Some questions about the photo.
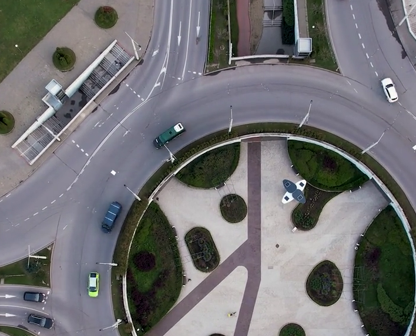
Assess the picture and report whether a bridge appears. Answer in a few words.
No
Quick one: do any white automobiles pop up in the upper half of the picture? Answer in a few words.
Yes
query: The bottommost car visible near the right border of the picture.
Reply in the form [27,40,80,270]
[381,77,397,104]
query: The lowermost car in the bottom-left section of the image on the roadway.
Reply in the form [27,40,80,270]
[28,313,55,329]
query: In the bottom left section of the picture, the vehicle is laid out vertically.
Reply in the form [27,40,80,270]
[87,271,100,297]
